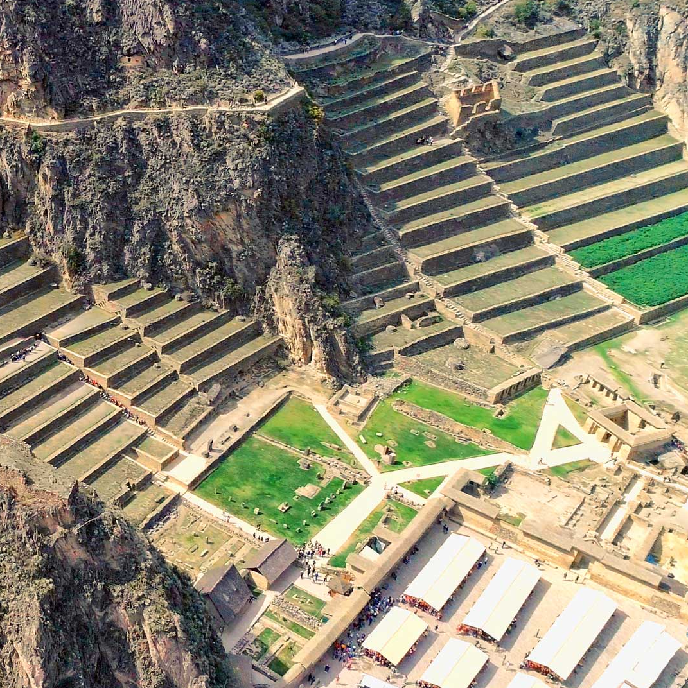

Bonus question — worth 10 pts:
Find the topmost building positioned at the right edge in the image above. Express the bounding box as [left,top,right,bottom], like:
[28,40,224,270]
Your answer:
[582,401,678,464]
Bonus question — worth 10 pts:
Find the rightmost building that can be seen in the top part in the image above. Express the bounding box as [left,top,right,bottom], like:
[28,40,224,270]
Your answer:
[448,92,502,136]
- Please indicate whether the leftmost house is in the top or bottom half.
bottom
